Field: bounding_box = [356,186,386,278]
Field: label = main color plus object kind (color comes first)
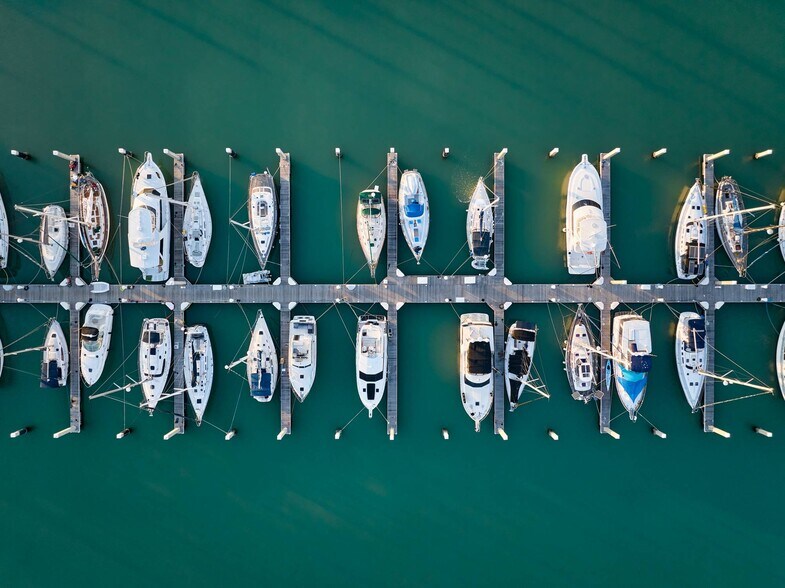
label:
white boat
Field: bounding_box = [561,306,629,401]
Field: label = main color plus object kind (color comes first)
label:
white boat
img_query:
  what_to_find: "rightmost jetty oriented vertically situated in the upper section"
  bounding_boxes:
[702,153,718,285]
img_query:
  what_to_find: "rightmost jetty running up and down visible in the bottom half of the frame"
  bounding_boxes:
[695,304,715,435]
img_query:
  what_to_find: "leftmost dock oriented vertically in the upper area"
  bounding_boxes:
[69,153,82,285]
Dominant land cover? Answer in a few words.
water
